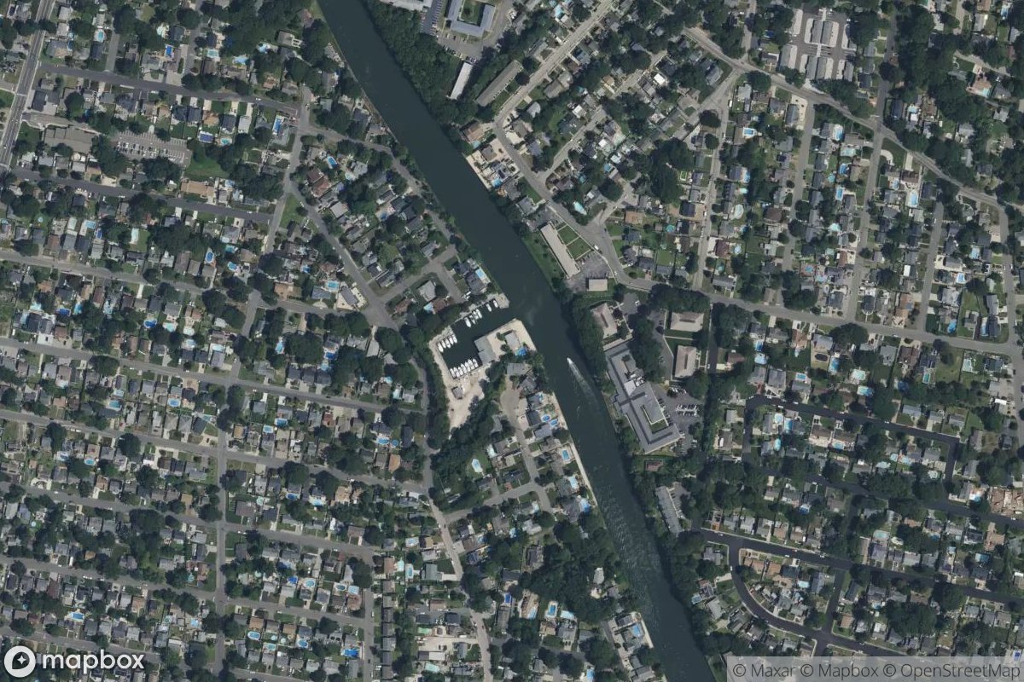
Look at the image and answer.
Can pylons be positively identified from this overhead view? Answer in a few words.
No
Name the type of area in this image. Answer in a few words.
residential area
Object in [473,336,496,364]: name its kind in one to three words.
shed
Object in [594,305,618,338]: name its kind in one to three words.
building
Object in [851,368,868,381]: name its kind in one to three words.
swimming pool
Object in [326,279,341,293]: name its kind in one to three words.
swimming pool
